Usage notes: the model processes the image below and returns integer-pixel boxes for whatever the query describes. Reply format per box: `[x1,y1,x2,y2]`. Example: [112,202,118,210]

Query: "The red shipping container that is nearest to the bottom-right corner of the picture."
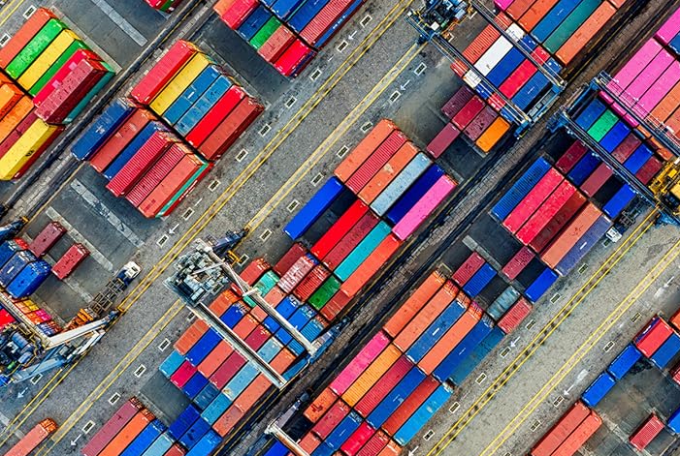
[629,412,665,451]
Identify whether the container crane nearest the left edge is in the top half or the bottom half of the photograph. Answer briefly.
bottom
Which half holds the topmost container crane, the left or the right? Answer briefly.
right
